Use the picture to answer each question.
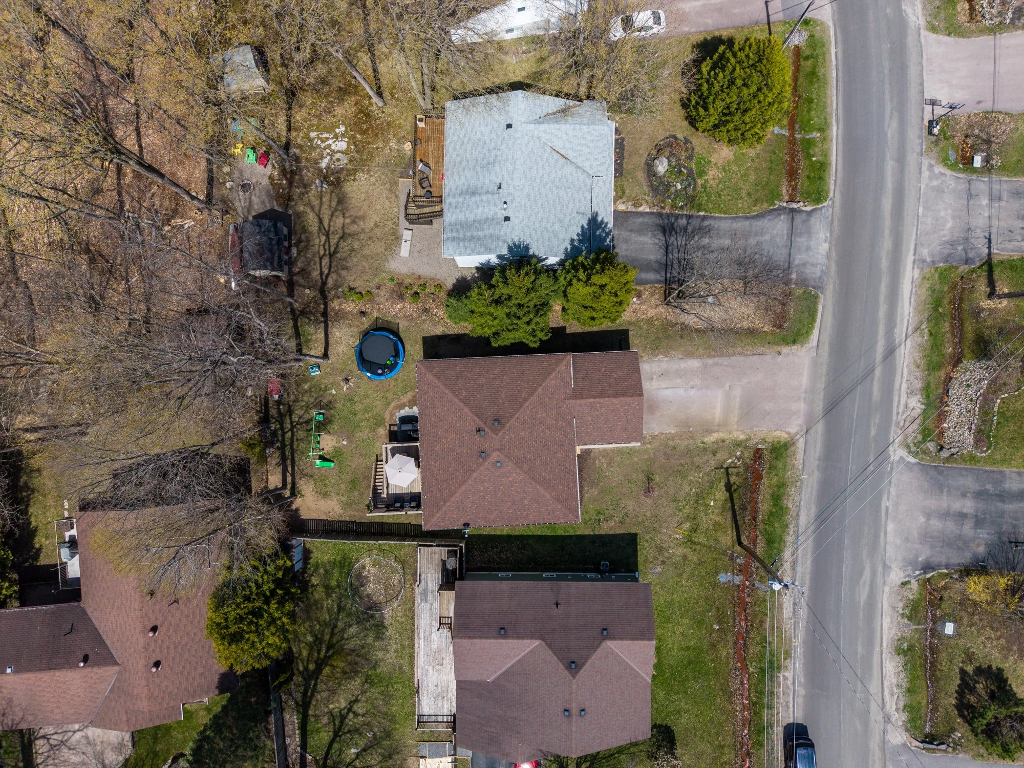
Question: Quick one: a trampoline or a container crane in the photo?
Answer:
trampoline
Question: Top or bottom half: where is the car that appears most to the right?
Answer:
bottom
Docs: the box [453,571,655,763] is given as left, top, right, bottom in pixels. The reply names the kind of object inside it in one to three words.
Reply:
house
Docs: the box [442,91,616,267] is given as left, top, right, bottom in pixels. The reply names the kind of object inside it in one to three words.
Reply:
house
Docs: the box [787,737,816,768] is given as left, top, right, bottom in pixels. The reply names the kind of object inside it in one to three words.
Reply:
car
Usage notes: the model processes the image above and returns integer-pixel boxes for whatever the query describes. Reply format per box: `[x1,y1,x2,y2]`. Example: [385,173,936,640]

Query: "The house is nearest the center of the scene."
[414,348,644,531]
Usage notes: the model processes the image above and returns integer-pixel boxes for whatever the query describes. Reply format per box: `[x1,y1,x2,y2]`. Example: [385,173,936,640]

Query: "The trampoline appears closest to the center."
[354,329,406,380]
